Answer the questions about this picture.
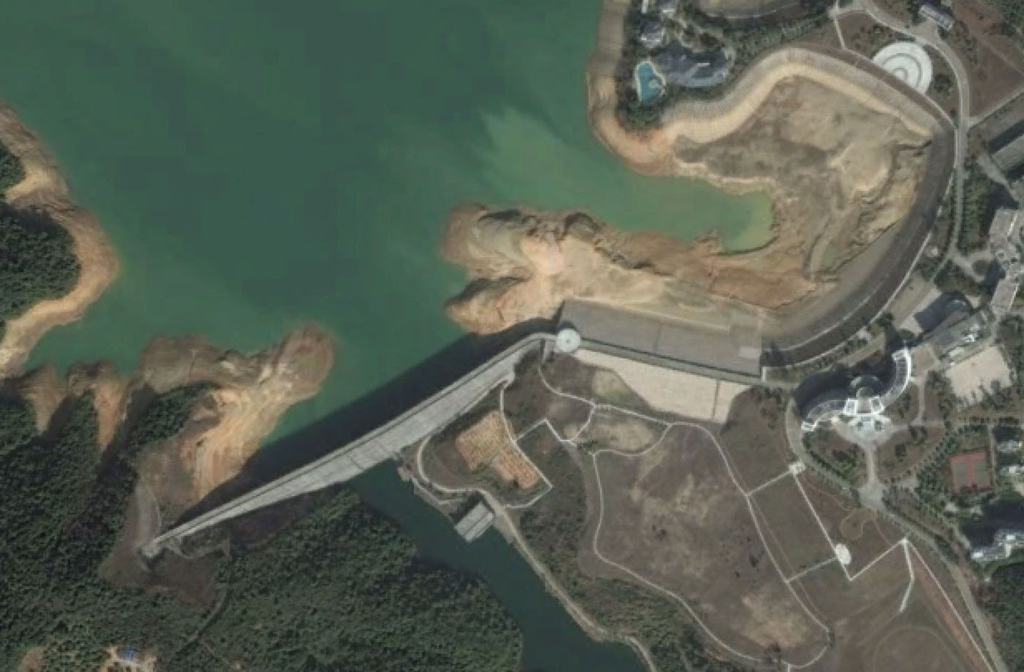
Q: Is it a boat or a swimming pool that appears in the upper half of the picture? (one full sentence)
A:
The one visible in the upper half of the picture is a swimming pool.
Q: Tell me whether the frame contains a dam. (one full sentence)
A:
Yes, the picture does show a dam.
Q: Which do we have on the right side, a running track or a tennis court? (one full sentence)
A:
You can see a tennis court on the right side.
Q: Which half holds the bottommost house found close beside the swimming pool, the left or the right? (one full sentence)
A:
It is on the right.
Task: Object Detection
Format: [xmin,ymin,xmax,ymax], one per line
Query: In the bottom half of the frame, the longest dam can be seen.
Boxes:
[151,333,557,548]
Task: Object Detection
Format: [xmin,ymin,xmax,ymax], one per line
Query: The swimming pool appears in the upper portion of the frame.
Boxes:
[636,59,665,103]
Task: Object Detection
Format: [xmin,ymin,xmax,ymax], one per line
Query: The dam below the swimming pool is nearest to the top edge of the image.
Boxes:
[566,297,765,423]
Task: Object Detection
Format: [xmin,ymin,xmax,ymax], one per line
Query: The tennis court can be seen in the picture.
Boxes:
[949,452,991,491]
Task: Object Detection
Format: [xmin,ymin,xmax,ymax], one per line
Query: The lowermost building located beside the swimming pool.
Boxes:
[654,42,729,89]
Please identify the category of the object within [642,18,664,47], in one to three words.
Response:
house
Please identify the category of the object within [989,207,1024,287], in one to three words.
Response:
building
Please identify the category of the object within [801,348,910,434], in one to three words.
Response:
building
